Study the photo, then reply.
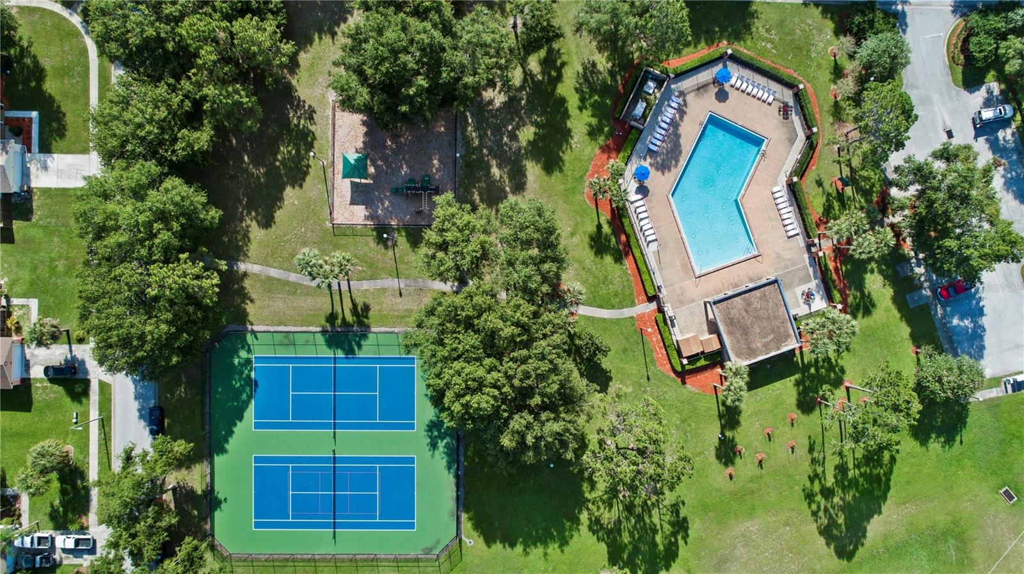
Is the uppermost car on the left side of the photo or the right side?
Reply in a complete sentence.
The uppermost car sits on the right side.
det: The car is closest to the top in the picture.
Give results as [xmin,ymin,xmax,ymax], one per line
[972,106,1011,127]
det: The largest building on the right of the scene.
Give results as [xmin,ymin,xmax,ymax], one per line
[703,275,800,364]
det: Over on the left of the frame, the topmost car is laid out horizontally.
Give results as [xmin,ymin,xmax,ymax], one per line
[45,364,79,380]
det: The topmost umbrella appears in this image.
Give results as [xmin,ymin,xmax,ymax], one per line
[714,67,731,84]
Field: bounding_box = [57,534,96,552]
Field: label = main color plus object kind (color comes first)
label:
white vehicle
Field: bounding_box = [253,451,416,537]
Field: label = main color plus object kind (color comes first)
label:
blue tennis court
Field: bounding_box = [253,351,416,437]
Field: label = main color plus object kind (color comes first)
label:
blue tennis court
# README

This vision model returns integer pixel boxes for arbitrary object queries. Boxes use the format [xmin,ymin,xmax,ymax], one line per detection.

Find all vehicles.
[972,106,1011,127]
[17,553,56,571]
[57,534,96,552]
[148,405,166,437]
[16,533,56,551]
[935,277,977,301]
[45,364,79,380]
